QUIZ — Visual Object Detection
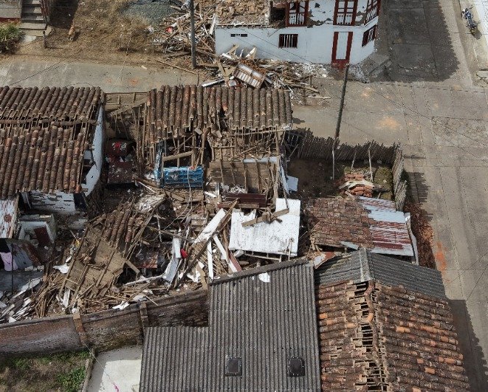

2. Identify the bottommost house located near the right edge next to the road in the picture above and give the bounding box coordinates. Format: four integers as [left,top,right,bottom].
[314,249,470,392]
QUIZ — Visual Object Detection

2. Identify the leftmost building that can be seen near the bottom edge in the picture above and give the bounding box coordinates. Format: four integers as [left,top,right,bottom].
[141,259,321,392]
